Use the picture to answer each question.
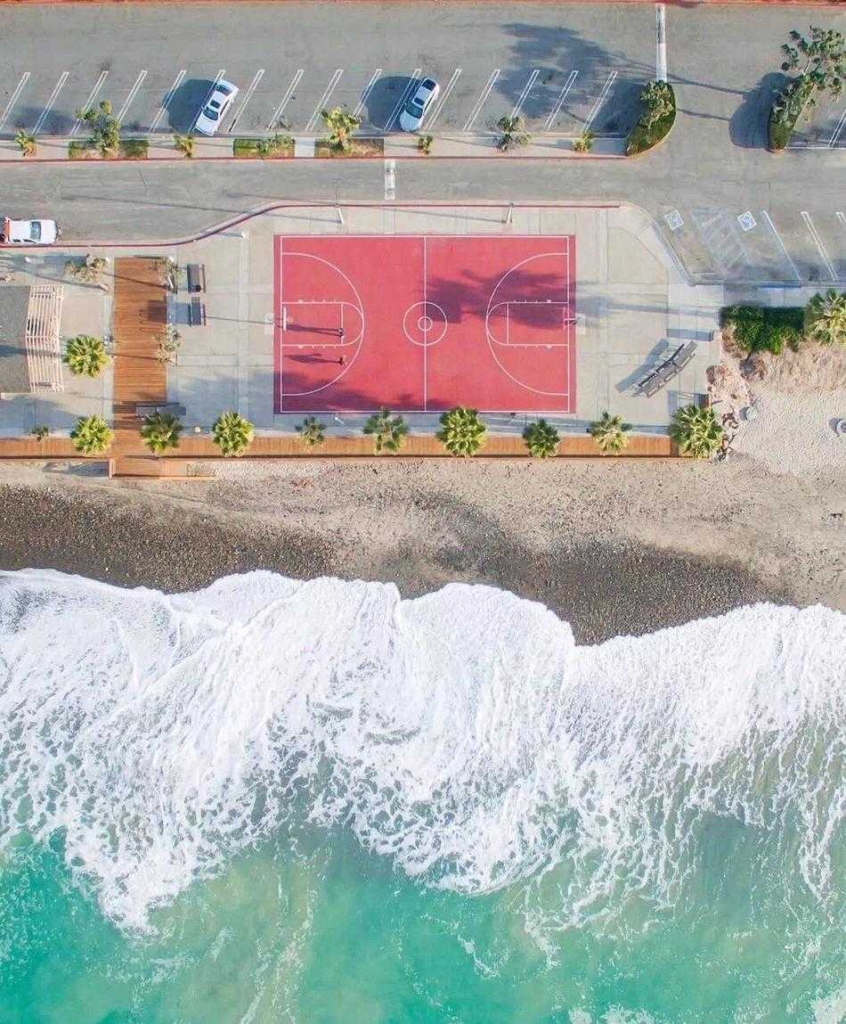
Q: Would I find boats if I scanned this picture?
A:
No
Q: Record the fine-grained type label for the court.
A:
basketball court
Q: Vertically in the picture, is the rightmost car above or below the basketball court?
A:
above it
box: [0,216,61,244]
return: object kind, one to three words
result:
truck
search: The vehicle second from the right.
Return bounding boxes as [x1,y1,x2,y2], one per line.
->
[197,81,238,136]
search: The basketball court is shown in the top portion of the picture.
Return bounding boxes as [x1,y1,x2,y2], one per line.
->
[274,235,576,415]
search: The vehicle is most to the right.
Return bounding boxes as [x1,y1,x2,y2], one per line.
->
[402,78,439,133]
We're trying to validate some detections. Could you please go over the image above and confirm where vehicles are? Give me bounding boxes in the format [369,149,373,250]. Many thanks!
[402,78,439,133]
[197,81,238,136]
[0,216,61,244]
